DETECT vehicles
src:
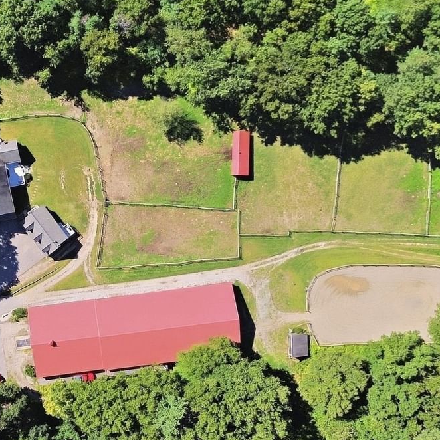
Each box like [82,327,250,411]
[76,374,94,382]
[153,364,171,373]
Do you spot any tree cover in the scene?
Yes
